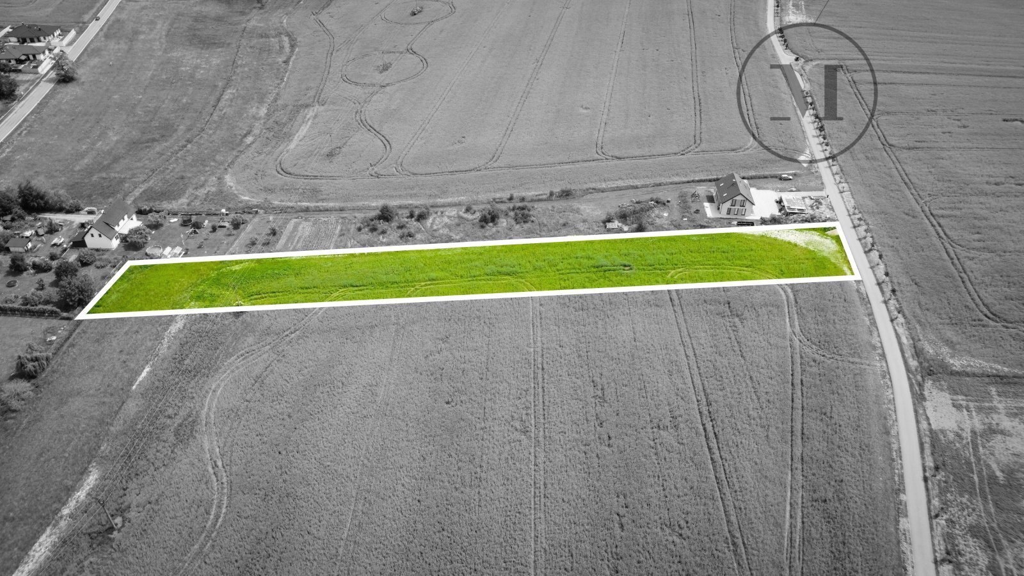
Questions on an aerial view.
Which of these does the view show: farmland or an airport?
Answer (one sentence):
This looks like farmland.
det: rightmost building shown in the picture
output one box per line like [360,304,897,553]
[782,192,811,217]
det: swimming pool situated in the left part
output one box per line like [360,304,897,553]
[143,244,163,257]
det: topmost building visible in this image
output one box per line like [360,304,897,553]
[4,23,67,41]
